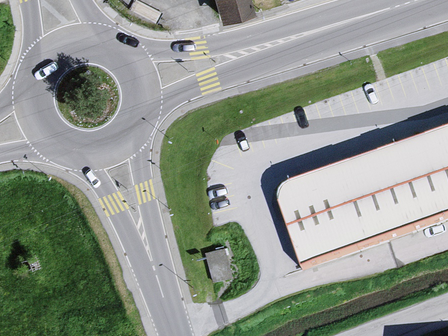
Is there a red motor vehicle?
No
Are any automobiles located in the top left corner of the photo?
Yes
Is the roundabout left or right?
left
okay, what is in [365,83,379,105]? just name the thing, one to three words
car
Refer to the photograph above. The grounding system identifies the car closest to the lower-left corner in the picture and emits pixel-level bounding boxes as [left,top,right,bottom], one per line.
[84,166,101,188]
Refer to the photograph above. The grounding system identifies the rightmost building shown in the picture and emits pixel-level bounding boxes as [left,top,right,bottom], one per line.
[276,119,448,274]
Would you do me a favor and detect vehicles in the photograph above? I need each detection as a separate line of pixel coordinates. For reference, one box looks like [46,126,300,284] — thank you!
[117,32,140,47]
[84,166,101,188]
[237,130,250,152]
[365,83,379,105]
[172,42,197,52]
[35,60,58,78]
[424,224,448,236]
[296,106,310,130]
[208,186,230,199]
[210,197,232,210]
